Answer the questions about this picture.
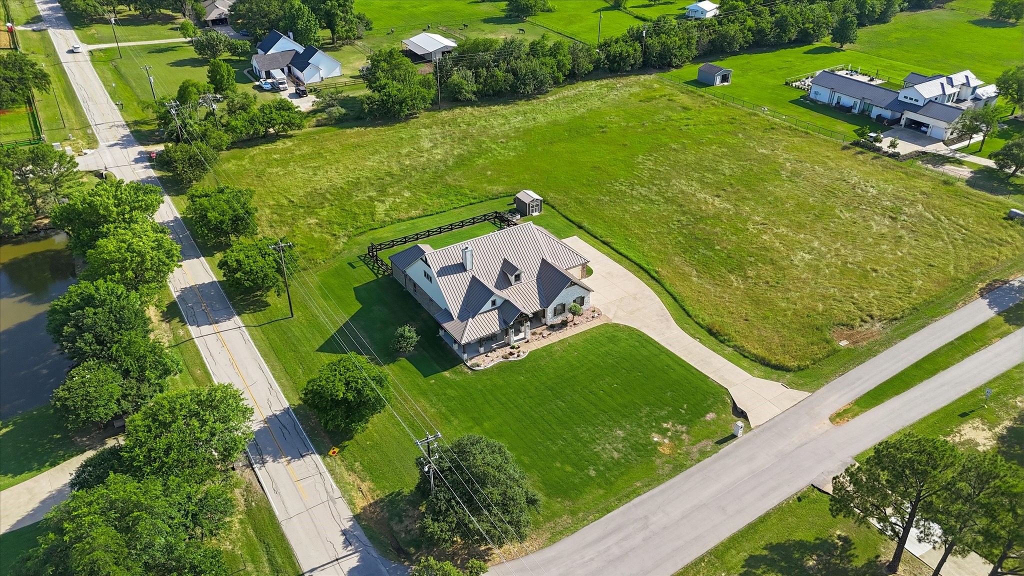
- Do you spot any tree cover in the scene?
Yes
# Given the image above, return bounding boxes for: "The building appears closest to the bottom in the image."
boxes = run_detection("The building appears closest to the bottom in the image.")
[388,222,597,360]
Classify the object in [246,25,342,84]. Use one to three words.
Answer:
house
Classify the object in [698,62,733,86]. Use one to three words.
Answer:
shed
